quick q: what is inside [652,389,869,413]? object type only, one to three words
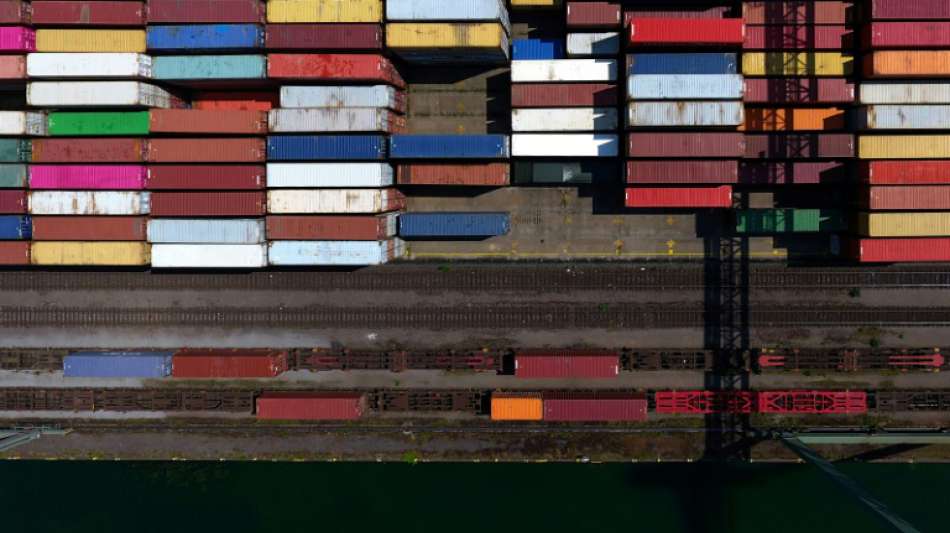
rail car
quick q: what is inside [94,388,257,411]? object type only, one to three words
rail car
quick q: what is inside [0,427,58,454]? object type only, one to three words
container crane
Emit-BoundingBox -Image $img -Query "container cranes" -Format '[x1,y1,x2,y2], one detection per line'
[0,427,58,454]
[758,429,950,533]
